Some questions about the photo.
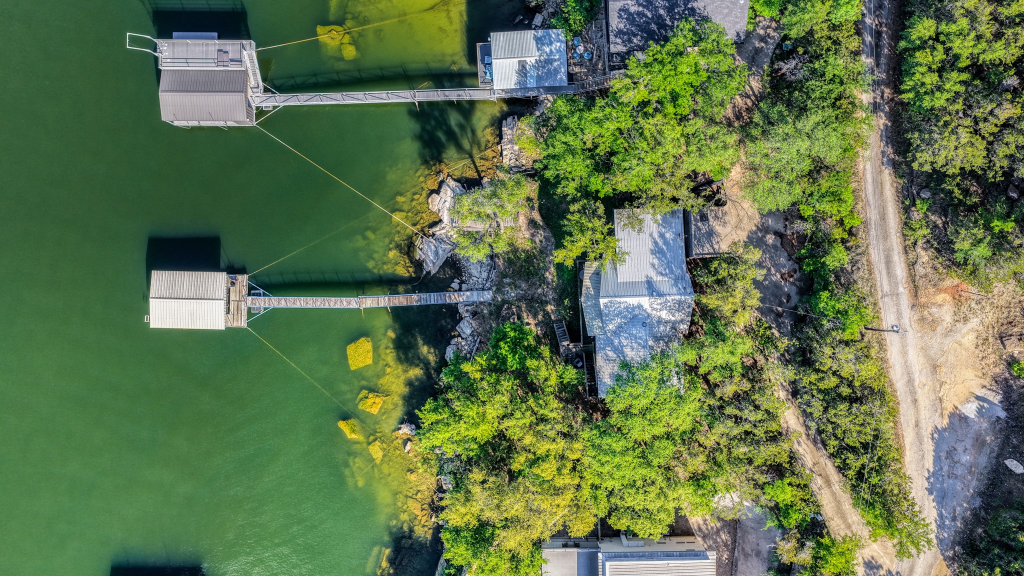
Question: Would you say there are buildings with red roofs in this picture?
No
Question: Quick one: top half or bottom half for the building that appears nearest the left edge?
top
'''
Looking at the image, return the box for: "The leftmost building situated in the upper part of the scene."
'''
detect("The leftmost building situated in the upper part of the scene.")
[478,29,567,93]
